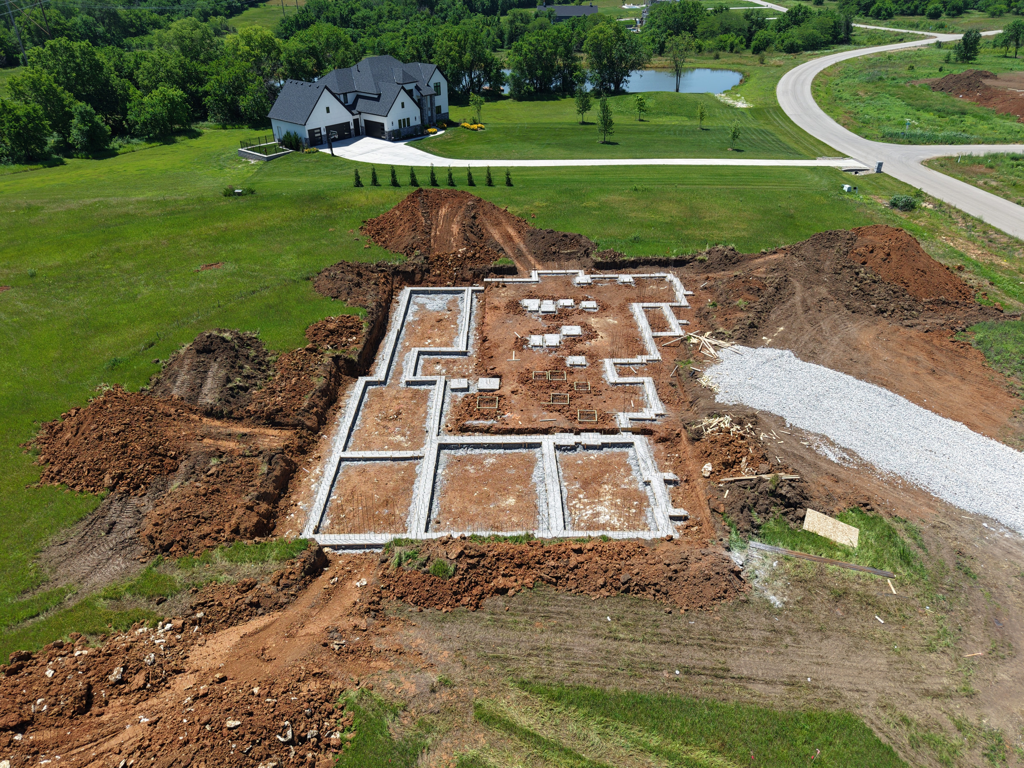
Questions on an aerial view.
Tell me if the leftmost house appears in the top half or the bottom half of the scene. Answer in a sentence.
It is in the top half that the leftmost house appears.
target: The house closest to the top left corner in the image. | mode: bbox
[264,55,450,146]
